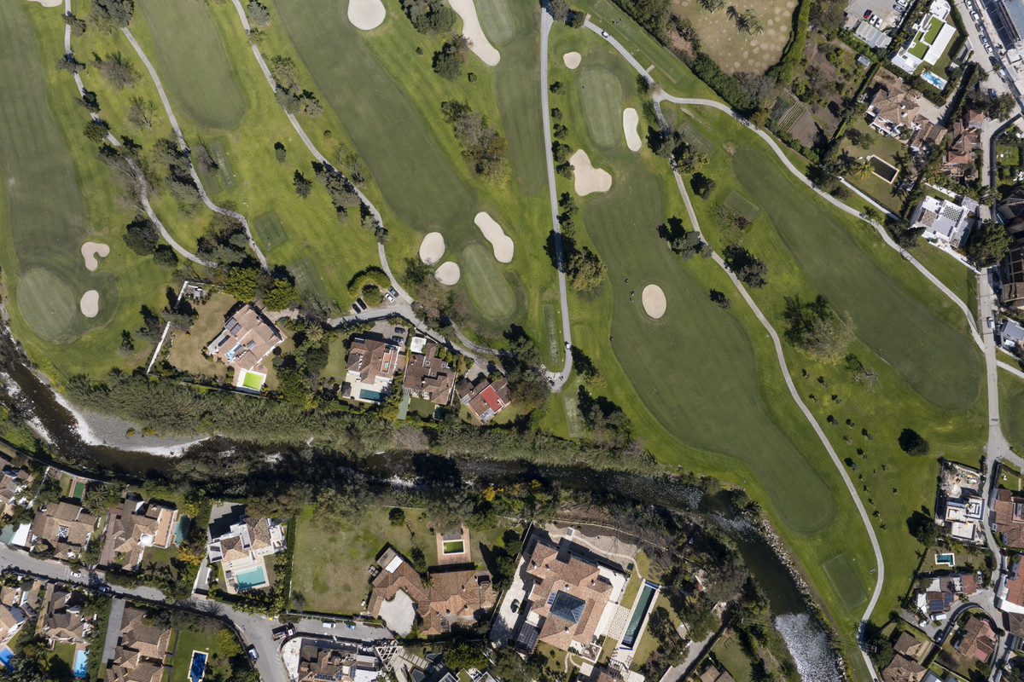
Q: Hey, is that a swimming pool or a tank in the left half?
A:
swimming pool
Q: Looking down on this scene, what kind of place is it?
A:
golf course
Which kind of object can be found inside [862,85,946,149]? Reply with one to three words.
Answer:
house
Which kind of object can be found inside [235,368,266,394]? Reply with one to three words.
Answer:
swimming pool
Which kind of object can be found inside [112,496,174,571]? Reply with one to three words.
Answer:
house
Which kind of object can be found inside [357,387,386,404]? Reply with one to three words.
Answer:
swimming pool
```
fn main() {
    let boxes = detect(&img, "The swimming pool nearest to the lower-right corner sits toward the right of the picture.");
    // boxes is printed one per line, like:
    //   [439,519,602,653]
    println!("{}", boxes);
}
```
[935,553,956,567]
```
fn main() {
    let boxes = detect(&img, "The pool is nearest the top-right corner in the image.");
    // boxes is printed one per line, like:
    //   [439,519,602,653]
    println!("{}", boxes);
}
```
[921,68,948,89]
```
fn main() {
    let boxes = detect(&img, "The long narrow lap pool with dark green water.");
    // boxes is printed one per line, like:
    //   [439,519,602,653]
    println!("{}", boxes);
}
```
[616,579,660,653]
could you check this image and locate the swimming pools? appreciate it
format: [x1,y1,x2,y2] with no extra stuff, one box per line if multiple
[235,368,266,394]
[0,646,14,672]
[234,565,266,592]
[173,514,192,546]
[433,405,443,419]
[921,68,948,89]
[72,650,90,678]
[69,478,88,501]
[616,579,660,653]
[442,540,465,555]
[357,387,386,404]
[187,651,209,682]
[935,553,956,567]
[867,154,900,184]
